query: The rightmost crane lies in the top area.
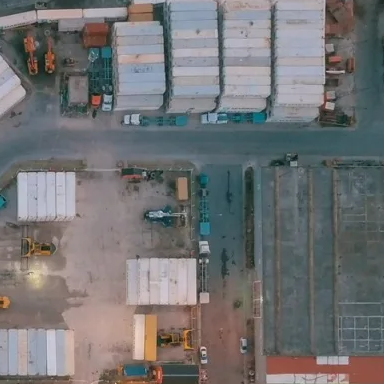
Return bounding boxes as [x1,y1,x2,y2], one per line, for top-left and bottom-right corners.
[43,28,55,79]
